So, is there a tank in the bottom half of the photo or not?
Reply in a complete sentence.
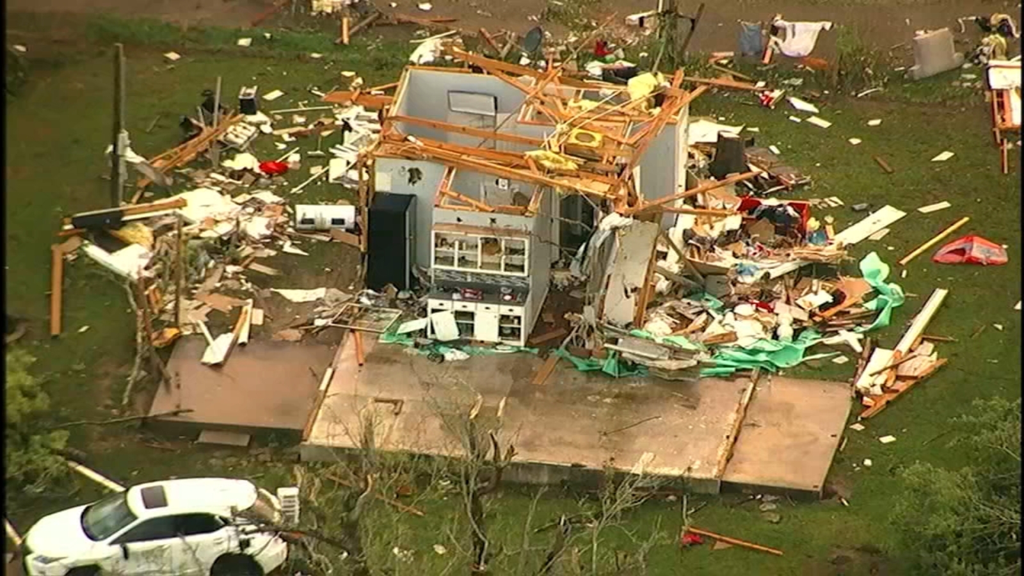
No, no tank is visible in the bottom half of the photo.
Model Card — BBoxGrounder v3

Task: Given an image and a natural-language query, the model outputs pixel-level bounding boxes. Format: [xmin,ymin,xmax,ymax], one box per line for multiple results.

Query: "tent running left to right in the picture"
[933,233,1009,265]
